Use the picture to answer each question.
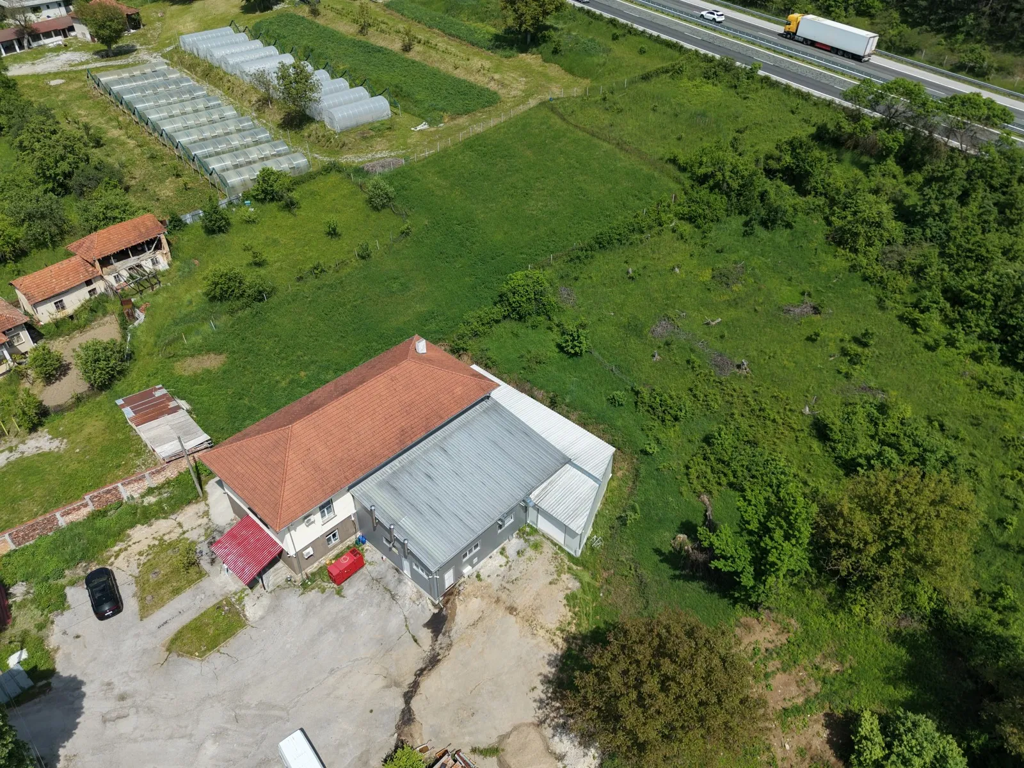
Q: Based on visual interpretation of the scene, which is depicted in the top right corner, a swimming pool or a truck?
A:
truck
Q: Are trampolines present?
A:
No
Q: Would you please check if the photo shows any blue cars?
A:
No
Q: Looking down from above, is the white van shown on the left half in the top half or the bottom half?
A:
bottom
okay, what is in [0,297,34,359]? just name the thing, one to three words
house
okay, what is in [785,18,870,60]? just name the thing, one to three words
truck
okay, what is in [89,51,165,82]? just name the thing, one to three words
greenhouse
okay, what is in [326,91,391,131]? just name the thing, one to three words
greenhouse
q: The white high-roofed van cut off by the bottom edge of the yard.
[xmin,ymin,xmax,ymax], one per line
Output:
[278,730,328,768]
